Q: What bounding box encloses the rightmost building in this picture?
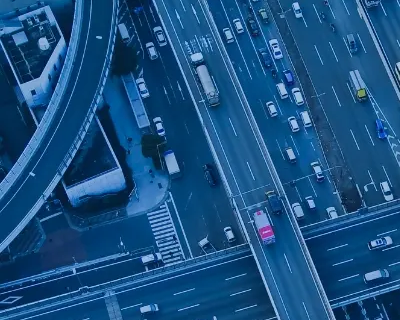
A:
[61,109,123,203]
